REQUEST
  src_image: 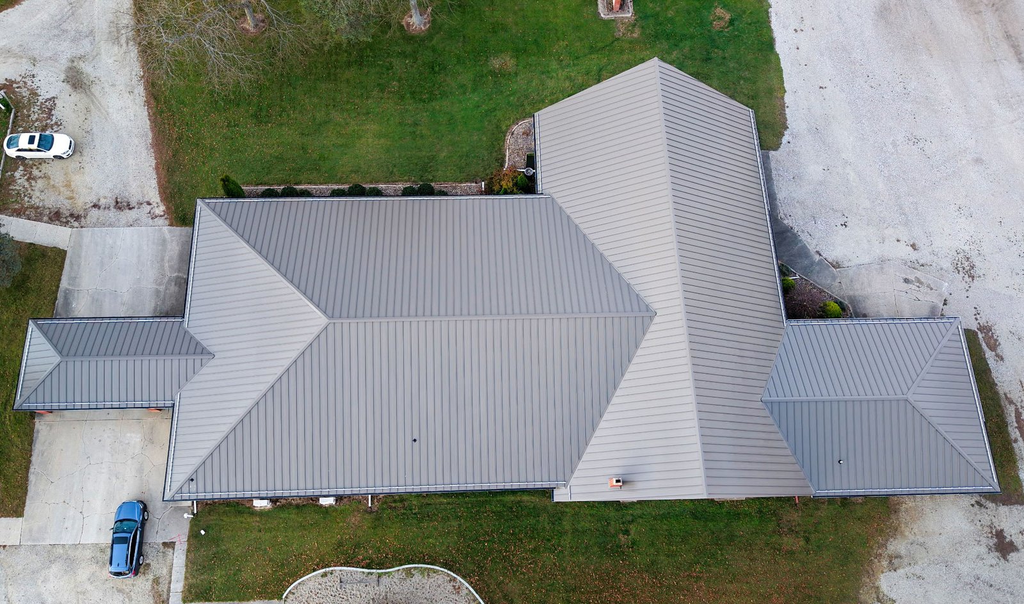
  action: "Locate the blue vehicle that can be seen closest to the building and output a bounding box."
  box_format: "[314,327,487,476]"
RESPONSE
[105,500,148,578]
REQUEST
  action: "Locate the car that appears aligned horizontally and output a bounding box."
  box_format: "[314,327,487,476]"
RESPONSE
[3,128,77,159]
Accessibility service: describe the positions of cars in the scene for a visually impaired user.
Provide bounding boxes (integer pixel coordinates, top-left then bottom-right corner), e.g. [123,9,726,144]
[3,128,77,159]
[105,500,148,578]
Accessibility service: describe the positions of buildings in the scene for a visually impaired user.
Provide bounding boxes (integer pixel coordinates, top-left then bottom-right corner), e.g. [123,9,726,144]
[11,57,1002,504]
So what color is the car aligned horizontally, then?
white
